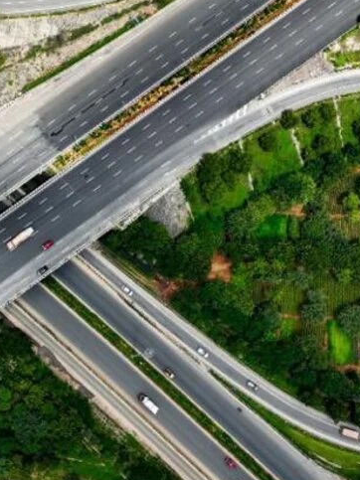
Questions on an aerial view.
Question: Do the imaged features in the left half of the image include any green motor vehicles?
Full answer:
No, no green motor vehicle can be made out in the left half of the image.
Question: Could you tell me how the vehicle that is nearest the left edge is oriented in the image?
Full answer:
From this overhead view, the vehicle that is nearest the left edge appears to run on a diagonal.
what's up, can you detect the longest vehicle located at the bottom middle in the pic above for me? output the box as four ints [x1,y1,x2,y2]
[139,393,162,414]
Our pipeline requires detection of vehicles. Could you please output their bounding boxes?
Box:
[225,458,238,470]
[198,347,210,358]
[9,227,35,248]
[340,426,360,439]
[246,380,260,391]
[121,284,133,295]
[36,264,50,276]
[139,393,162,414]
[163,367,175,379]
[41,240,54,250]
